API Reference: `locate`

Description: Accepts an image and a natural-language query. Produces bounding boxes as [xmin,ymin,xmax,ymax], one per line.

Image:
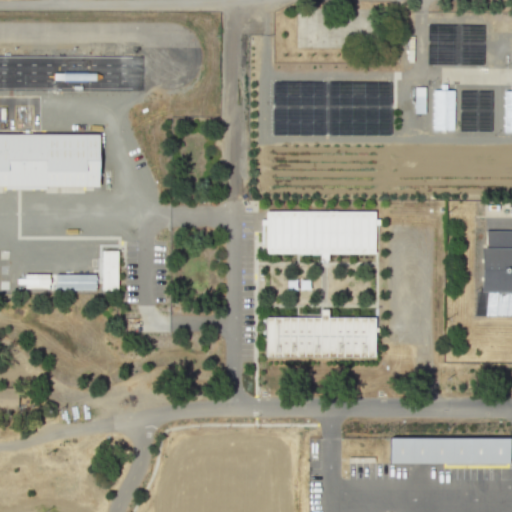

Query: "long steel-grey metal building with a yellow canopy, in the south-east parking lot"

[392,438,512,469]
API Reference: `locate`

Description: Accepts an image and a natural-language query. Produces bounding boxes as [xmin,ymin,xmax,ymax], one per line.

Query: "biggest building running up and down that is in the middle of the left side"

[103,250,120,292]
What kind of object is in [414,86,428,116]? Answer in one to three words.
shed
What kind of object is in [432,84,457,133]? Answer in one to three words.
greenhouse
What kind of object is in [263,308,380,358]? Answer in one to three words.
building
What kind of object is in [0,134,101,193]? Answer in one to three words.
hangar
